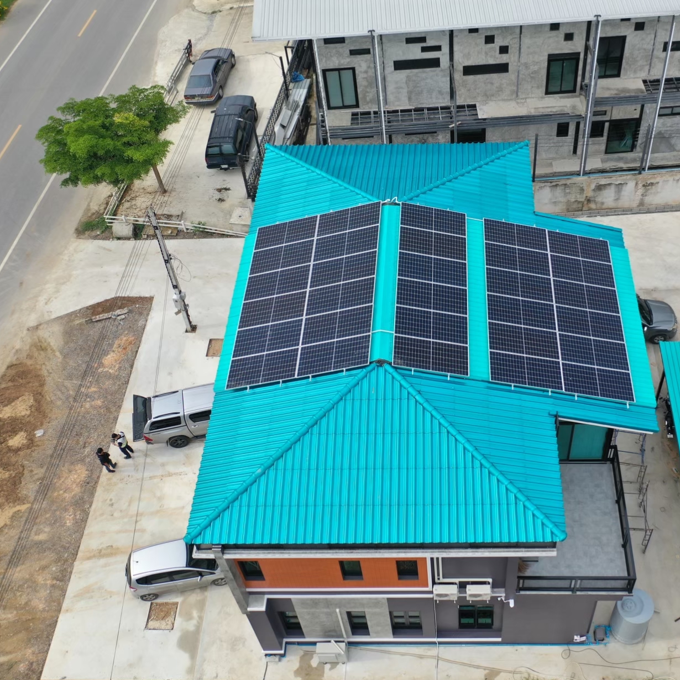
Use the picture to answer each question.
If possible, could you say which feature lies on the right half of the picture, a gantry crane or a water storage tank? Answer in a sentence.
Looking on the right half of the picture, you will find a water storage tank.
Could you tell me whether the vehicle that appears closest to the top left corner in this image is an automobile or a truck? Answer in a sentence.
The vehicle that appears closest to the top left corner can be classified as an automobile.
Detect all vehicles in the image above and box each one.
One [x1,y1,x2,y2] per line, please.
[207,96,260,166]
[128,383,220,449]
[637,293,680,345]
[126,535,224,601]
[186,45,236,103]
